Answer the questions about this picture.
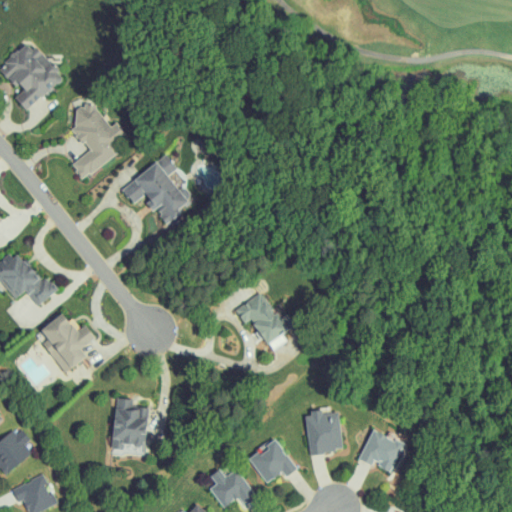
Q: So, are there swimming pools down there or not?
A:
Yes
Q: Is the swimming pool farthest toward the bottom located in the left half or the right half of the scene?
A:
left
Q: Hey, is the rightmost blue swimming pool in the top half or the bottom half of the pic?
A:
top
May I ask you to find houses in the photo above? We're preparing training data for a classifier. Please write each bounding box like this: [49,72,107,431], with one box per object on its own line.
[210,469,254,508]
[118,151,194,226]
[249,440,298,482]
[72,99,124,179]
[110,398,150,450]
[2,42,65,110]
[40,314,96,374]
[0,252,58,308]
[306,410,344,457]
[233,292,290,343]
[0,428,34,481]
[8,474,57,512]
[358,429,408,475]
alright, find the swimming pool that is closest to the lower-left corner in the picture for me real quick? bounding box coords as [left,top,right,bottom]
[20,358,50,385]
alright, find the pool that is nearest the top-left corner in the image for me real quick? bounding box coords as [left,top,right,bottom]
[200,162,220,190]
